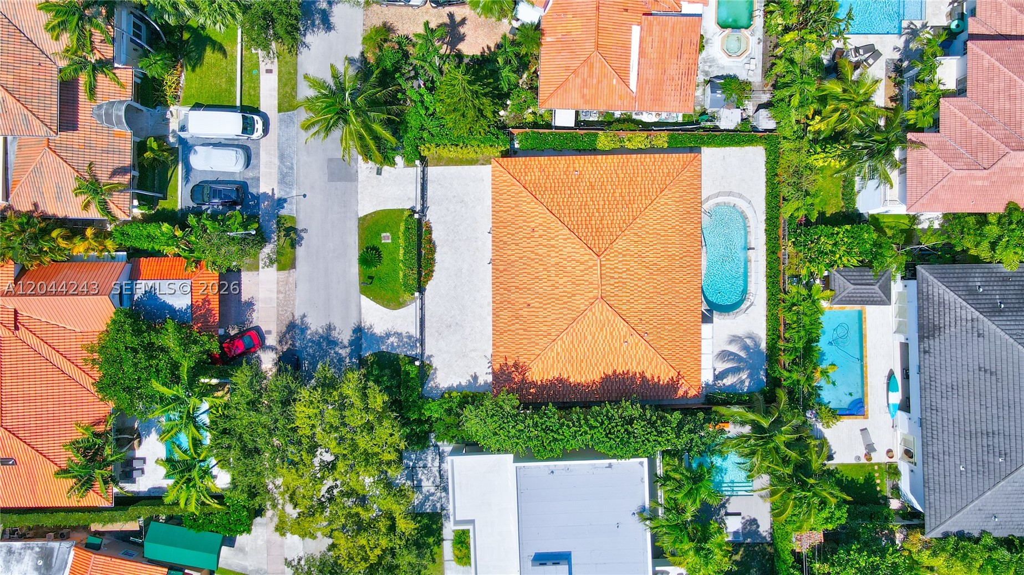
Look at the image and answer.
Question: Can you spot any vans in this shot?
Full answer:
Yes, there's a van here.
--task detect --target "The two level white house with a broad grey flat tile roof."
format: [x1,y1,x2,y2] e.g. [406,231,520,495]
[885,264,1024,538]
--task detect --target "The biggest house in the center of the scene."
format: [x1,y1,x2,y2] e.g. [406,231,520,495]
[490,153,704,402]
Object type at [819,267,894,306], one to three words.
gazebo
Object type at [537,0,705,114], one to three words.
house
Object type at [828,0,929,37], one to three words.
swimming pool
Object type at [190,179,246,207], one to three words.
car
